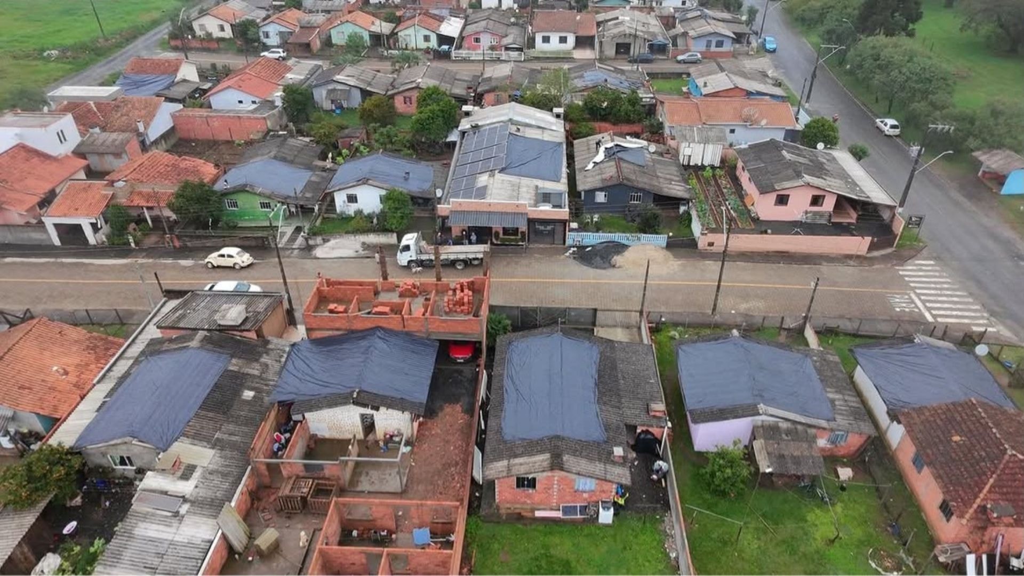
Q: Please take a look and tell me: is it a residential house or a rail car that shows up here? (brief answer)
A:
residential house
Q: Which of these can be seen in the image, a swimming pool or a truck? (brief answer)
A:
truck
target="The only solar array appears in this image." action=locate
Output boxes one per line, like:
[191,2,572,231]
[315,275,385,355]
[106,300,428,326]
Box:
[451,123,509,198]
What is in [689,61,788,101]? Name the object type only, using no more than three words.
house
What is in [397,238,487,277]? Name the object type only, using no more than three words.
truck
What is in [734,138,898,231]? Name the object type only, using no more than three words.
house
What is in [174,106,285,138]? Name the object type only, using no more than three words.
building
